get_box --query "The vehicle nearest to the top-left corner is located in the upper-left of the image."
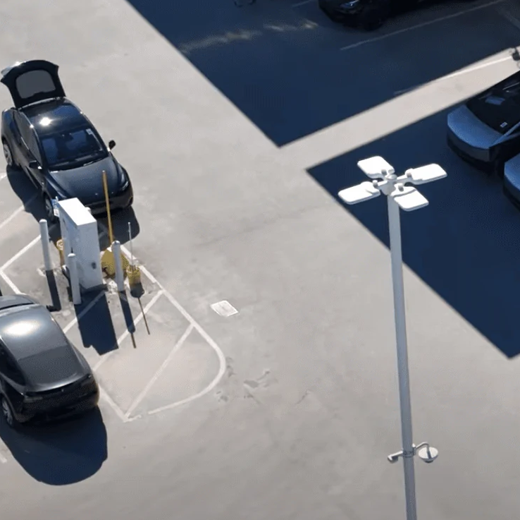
[0,50,131,218]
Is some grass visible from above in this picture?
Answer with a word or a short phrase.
No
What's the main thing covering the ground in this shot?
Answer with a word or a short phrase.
paved ground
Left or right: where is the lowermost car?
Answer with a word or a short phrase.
left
